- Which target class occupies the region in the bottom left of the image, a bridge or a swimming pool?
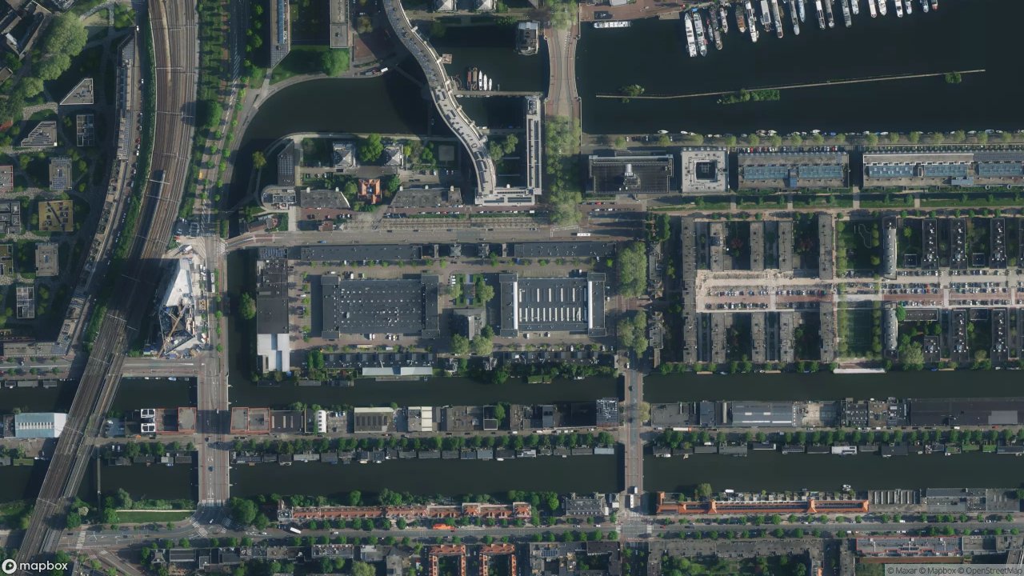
bridge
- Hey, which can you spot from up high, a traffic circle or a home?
home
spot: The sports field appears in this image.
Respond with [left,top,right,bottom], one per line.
[846,310,874,357]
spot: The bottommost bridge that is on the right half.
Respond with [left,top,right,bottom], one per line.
[622,443,646,493]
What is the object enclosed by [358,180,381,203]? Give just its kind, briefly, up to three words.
house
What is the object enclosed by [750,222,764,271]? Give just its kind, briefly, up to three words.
building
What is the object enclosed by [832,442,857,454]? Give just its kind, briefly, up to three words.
boat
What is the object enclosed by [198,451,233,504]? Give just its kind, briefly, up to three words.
bridge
